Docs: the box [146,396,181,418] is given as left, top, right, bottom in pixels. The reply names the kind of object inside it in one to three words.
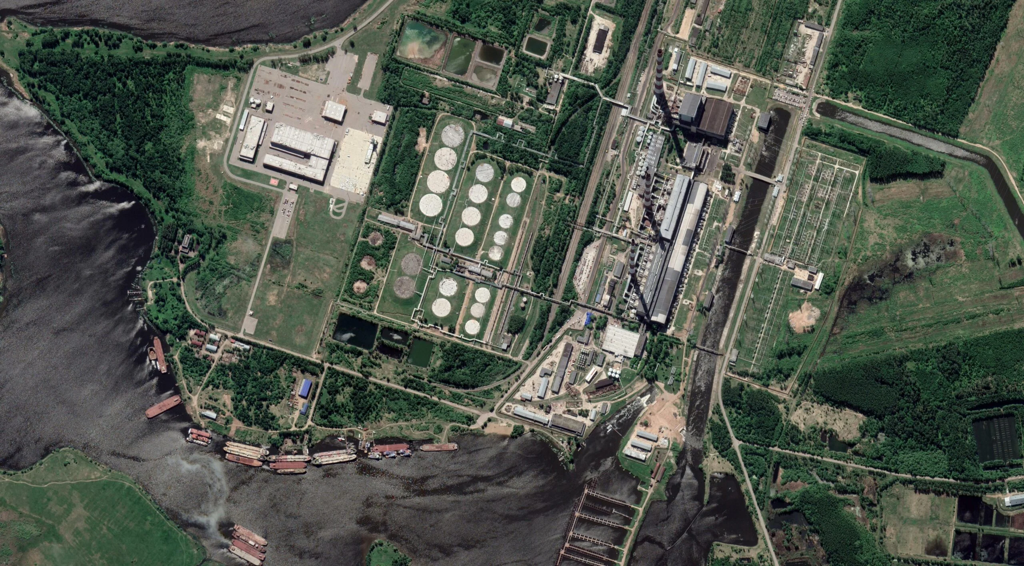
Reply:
ship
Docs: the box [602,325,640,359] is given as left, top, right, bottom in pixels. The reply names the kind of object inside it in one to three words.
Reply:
building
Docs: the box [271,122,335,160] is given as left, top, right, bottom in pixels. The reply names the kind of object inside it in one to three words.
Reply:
building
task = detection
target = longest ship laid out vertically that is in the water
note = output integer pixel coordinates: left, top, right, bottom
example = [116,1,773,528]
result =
[154,337,167,373]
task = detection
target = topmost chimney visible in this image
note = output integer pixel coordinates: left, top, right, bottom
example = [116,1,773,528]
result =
[653,49,665,101]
